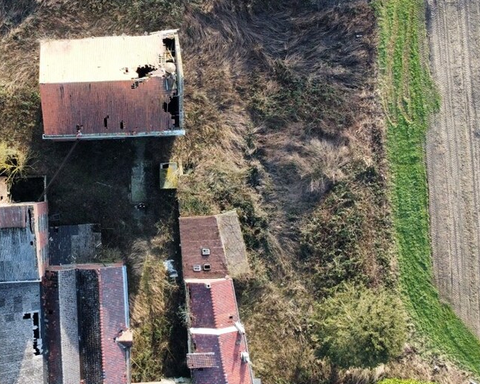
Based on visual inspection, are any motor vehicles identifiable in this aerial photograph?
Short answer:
No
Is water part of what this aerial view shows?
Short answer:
No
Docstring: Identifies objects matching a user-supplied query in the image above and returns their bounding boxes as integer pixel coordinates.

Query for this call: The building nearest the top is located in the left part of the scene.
[39,27,187,138]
